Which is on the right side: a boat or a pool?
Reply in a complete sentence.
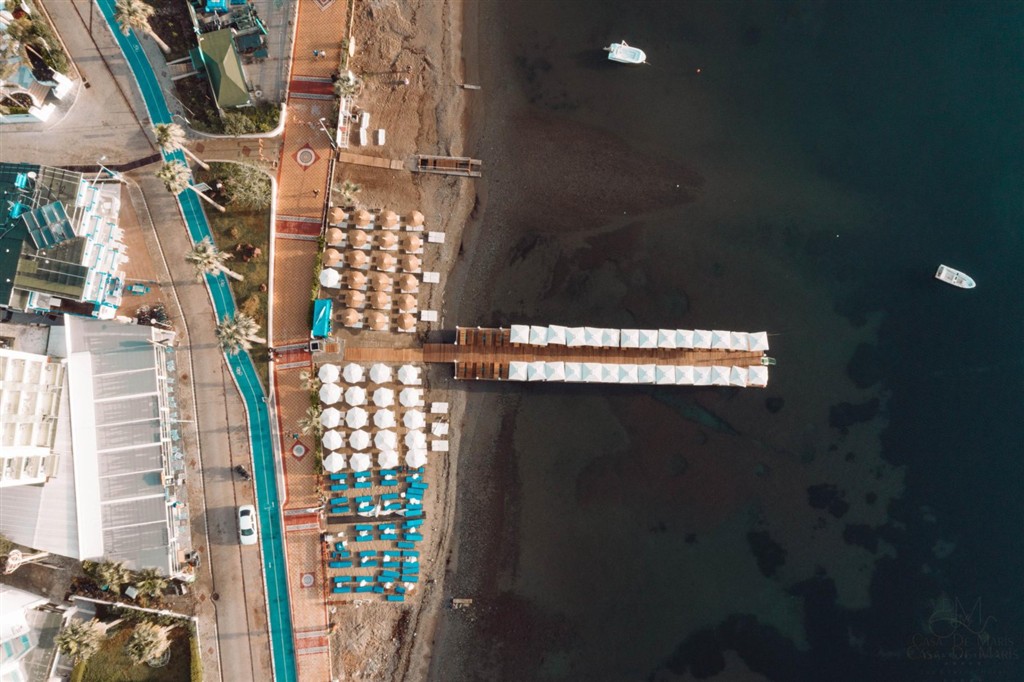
There is a boat on the right side.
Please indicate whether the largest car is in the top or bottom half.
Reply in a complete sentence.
The largest car sits in the bottom half of the picture.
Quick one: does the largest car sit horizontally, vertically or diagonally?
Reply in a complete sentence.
I'd say the largest car is aligned vertically in the picture.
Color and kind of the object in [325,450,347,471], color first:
white umbrella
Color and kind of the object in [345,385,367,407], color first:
white umbrella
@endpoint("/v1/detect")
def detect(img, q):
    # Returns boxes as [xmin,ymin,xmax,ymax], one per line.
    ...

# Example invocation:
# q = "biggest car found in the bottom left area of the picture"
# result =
[236,504,258,547]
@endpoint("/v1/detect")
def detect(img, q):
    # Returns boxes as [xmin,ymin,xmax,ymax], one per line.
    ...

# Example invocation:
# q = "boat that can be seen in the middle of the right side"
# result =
[934,264,977,286]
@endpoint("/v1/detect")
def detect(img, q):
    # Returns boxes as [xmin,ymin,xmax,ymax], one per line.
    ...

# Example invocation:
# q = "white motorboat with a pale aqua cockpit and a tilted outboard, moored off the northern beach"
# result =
[603,40,650,62]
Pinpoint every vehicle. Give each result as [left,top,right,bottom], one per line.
[236,504,258,547]
[232,463,251,482]
[191,552,203,571]
[183,548,196,568]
